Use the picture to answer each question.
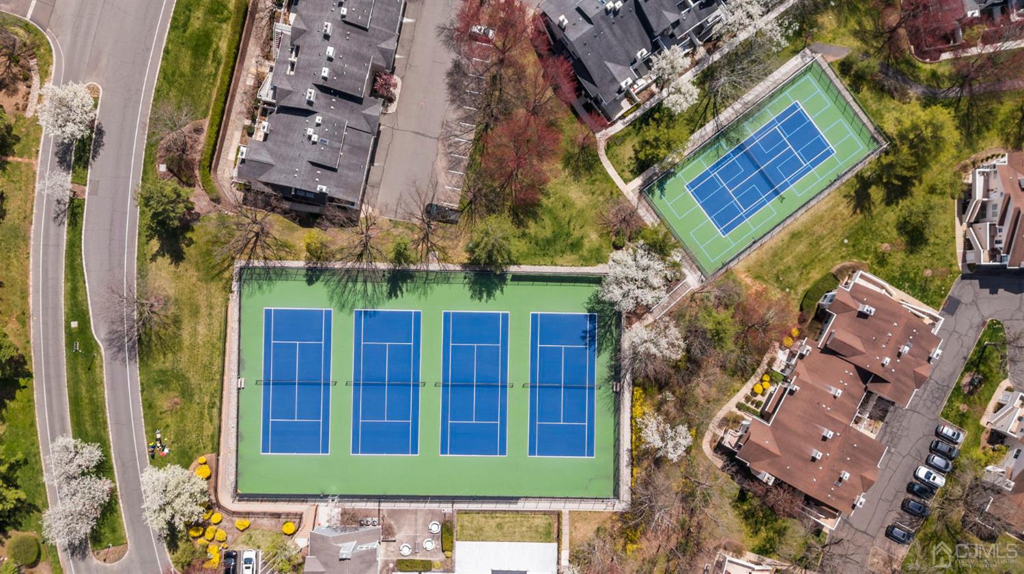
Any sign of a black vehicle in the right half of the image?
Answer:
Yes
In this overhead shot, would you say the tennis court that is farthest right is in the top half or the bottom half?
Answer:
top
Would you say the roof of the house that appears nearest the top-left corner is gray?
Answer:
Yes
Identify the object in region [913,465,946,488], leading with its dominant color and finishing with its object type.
white car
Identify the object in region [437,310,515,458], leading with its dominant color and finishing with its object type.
blue tennis court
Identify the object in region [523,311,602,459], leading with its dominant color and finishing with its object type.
blue tennis court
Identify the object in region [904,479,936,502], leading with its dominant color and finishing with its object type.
black car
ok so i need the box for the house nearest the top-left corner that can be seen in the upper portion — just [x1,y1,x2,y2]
[232,0,414,214]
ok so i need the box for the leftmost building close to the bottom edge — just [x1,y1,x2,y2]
[305,520,383,574]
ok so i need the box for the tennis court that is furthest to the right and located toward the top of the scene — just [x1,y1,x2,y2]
[647,64,879,272]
